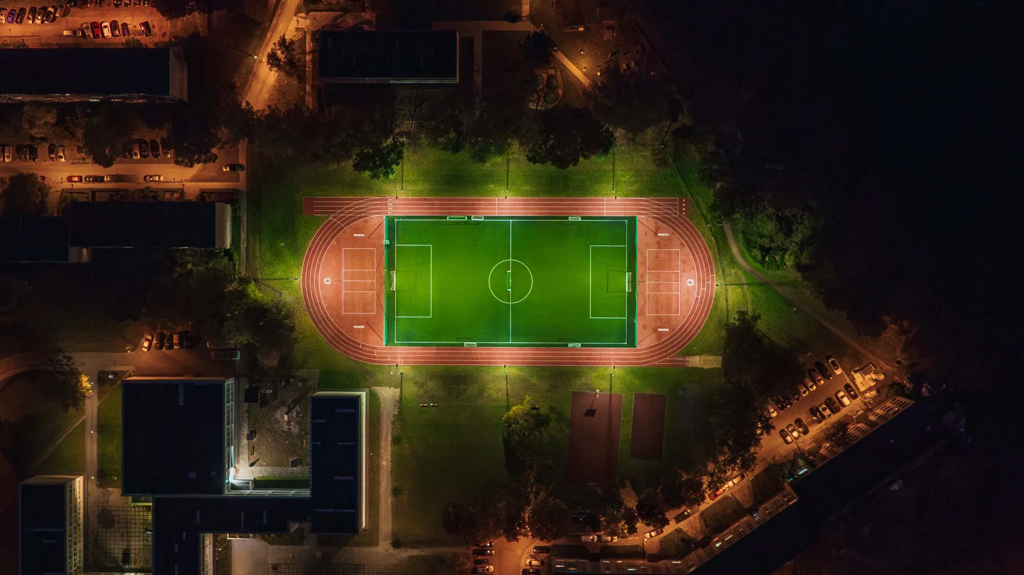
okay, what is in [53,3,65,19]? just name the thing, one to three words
vehicle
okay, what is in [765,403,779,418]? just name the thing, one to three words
car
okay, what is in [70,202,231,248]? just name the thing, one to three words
building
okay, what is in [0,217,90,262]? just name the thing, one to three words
building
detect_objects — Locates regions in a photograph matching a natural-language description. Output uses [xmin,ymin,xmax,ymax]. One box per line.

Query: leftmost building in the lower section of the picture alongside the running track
[122,379,364,575]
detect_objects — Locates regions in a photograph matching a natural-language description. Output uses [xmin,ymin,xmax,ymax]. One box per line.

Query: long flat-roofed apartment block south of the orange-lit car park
[0,48,187,104]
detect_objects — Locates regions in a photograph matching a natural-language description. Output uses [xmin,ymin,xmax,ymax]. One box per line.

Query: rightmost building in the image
[777,396,945,528]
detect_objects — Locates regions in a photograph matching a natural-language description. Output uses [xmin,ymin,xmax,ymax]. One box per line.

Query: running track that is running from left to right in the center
[301,215,715,367]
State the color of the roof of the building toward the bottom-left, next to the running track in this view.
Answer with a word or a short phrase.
black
